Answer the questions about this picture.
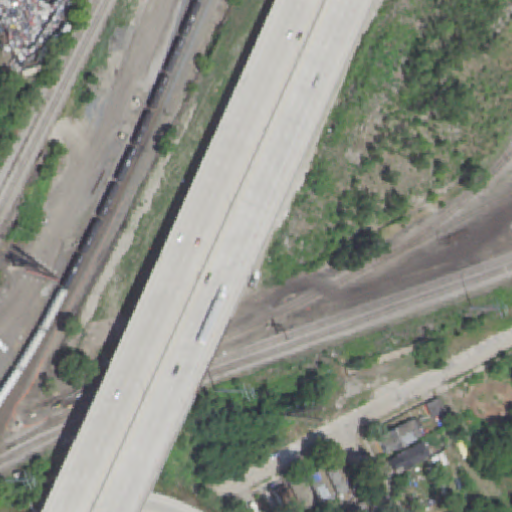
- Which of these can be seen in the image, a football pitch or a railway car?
railway car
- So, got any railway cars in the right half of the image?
No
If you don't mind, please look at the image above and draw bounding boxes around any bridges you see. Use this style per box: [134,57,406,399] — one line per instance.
[40,0,382,512]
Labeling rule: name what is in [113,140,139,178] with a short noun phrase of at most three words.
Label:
rail car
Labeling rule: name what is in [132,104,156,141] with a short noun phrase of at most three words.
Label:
rail car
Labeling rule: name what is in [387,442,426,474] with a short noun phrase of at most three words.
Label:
house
